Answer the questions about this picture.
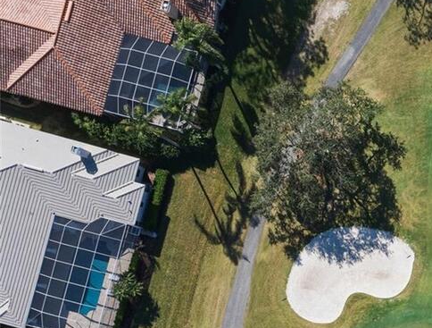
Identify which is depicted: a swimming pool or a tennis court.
swimming pool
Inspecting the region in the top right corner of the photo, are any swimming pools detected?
No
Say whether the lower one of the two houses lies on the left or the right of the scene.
left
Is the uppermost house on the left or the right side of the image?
left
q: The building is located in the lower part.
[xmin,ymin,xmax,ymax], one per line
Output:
[0,120,151,328]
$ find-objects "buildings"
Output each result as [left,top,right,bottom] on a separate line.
[0,0,237,117]
[0,120,151,328]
